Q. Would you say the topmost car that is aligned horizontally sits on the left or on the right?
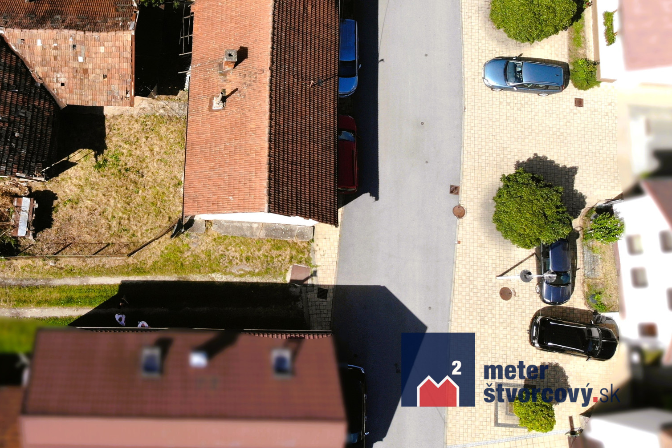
right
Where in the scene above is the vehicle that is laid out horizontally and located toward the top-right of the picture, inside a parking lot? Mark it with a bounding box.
[480,52,572,97]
